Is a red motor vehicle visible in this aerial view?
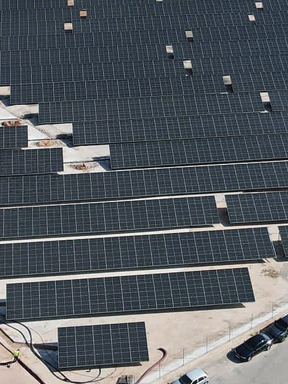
No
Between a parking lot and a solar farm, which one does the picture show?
solar farm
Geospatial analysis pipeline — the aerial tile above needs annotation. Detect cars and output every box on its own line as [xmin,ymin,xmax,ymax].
[178,368,211,384]
[269,318,288,344]
[234,336,275,365]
